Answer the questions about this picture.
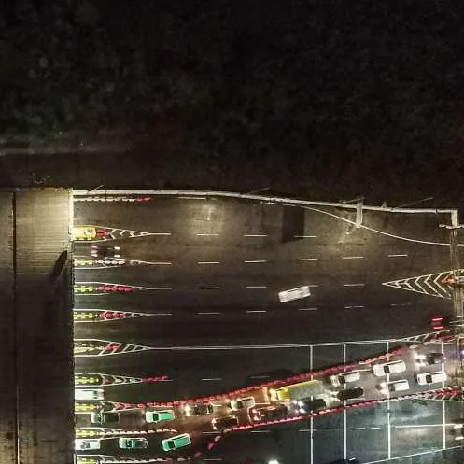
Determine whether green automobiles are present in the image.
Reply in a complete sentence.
Yes, you can see a green automobile in this photo.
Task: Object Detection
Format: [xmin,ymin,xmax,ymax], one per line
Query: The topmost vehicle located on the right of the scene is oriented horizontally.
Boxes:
[277,286,310,301]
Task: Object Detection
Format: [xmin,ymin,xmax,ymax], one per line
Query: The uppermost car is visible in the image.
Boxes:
[90,244,120,258]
